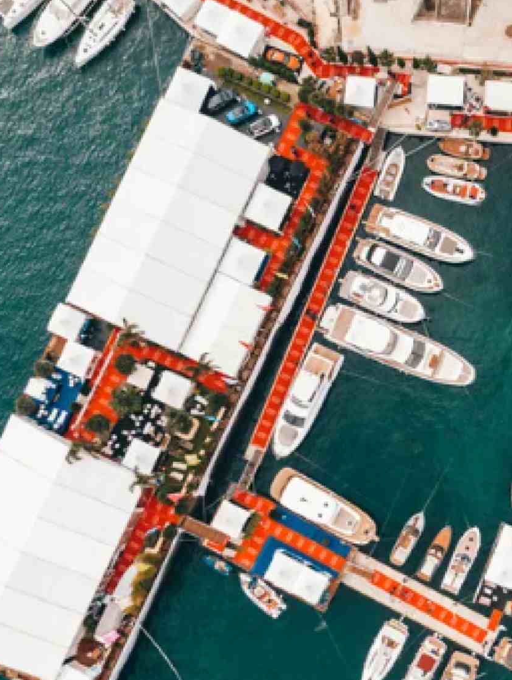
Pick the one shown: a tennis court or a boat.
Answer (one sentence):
It is a boat that can be seen here.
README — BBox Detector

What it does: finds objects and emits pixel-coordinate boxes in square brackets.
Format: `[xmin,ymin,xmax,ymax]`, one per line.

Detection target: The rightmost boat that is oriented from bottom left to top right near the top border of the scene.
[73,0,149,65]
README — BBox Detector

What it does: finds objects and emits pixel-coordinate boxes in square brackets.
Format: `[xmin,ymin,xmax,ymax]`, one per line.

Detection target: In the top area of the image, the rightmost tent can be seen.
[344,76,378,113]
